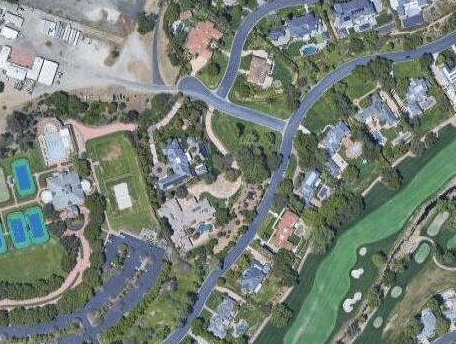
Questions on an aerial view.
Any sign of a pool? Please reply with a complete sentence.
Yes, there's a pool here.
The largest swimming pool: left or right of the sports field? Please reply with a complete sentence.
Relative to the sports field, the largest swimming pool is on the left.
